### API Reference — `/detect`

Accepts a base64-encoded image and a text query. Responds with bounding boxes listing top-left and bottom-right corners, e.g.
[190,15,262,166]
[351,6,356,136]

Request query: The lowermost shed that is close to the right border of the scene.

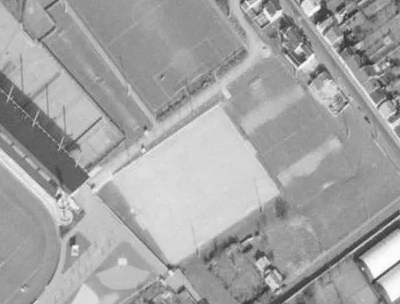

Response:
[373,267,400,304]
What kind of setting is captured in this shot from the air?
sports ground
